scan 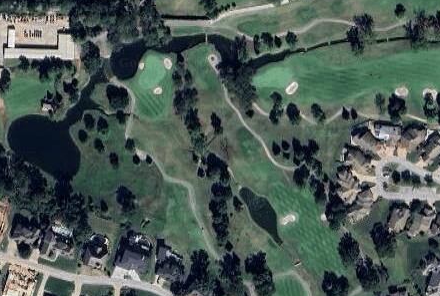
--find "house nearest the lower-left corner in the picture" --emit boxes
[6,264,37,296]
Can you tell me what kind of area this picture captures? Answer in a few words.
golf course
